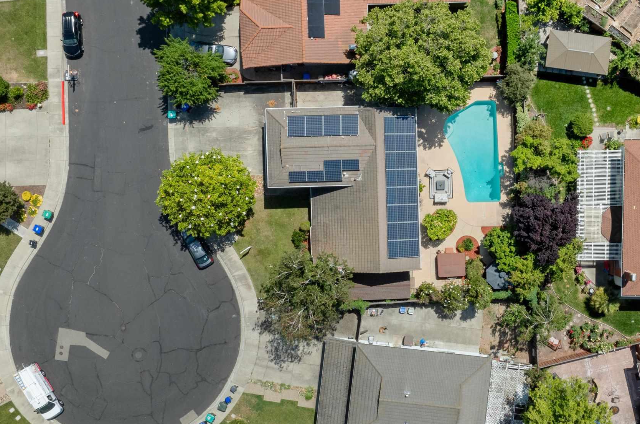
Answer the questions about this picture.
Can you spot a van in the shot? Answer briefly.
Yes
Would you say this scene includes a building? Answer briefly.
Yes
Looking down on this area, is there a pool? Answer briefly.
Yes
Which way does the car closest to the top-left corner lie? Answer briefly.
from top to bottom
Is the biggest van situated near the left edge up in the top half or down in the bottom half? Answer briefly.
bottom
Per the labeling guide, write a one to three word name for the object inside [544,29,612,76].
gazebo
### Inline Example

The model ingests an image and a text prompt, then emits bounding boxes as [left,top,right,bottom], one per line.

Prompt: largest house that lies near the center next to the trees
[265,106,421,301]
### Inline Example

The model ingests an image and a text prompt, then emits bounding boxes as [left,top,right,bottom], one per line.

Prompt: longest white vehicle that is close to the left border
[15,361,68,423]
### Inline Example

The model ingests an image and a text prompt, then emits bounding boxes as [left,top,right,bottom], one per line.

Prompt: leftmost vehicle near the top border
[61,10,89,61]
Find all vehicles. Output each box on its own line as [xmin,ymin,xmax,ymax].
[15,361,68,423]
[177,228,216,273]
[61,10,89,61]
[197,41,242,67]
